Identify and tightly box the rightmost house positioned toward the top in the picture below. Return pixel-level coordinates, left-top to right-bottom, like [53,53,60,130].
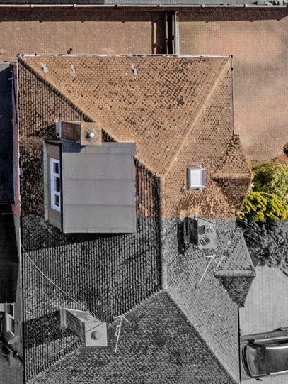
[15,53,256,234]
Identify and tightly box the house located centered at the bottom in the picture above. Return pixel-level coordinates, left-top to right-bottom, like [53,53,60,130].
[4,203,259,384]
